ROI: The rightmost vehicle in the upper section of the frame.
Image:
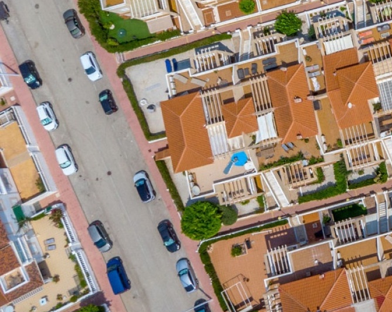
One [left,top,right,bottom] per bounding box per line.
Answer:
[100,90,119,115]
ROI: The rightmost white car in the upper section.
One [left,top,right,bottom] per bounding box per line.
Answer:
[83,53,101,80]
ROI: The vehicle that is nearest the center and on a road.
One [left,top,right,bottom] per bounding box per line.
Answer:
[135,173,155,201]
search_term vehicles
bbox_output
[178,259,198,291]
[65,10,85,36]
[36,101,58,131]
[135,173,155,201]
[196,300,210,312]
[107,258,129,293]
[83,53,101,80]
[57,146,77,174]
[20,61,42,89]
[88,220,112,251]
[159,222,179,250]
[100,90,119,115]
